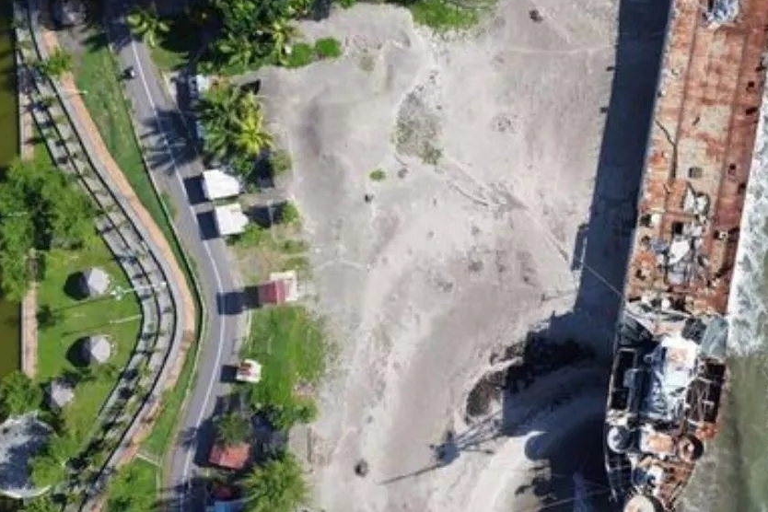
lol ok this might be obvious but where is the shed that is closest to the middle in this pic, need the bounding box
[257,269,299,307]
